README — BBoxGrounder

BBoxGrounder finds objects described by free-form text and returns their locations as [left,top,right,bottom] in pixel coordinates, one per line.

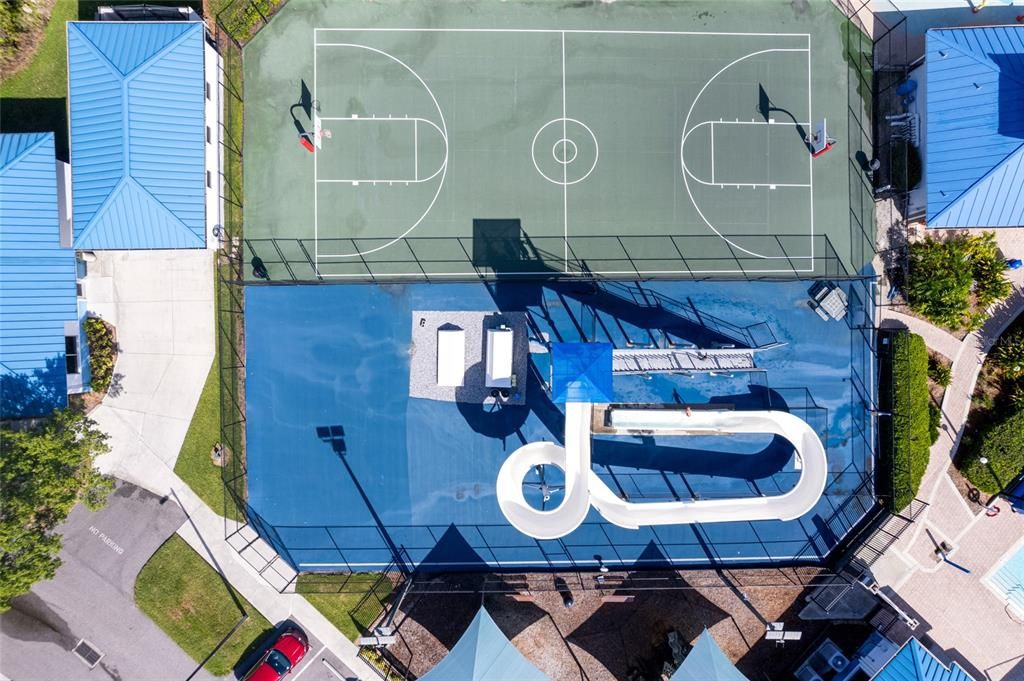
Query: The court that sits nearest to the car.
[243,263,879,574]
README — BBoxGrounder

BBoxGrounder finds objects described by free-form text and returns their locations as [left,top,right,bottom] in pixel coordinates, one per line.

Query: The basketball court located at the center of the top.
[243,0,877,284]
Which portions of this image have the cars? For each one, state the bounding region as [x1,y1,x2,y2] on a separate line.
[240,629,311,681]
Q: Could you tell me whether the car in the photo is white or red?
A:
red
